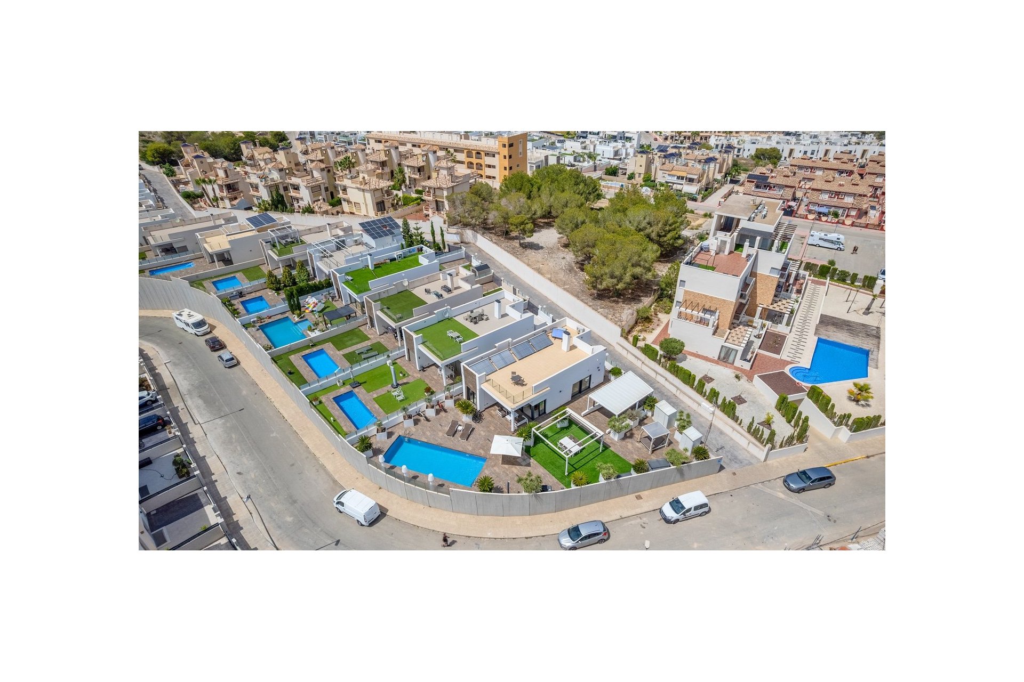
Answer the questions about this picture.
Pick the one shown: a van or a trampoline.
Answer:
van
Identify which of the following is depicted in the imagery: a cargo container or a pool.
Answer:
pool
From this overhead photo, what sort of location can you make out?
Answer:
residential area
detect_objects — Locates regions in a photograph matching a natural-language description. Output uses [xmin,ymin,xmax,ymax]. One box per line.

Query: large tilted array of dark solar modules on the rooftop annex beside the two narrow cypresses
[349,215,415,243]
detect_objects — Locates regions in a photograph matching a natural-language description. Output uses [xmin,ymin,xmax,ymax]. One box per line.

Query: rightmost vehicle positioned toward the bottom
[784,463,840,490]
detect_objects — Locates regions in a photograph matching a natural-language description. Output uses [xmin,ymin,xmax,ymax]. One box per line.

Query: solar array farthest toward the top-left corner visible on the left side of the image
[243,215,282,235]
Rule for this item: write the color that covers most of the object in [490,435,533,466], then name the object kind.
white umbrella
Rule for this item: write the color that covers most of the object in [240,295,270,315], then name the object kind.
blue swimming pool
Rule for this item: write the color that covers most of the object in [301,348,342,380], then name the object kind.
blue swimming pool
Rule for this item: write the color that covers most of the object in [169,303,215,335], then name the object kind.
white camper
